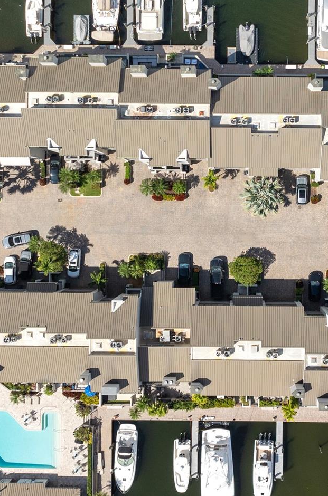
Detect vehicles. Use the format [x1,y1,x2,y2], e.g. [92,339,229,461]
[176,252,190,284]
[66,248,81,278]
[295,174,309,205]
[209,255,223,288]
[2,232,34,247]
[18,249,33,279]
[49,154,62,184]
[309,271,323,301]
[4,255,17,285]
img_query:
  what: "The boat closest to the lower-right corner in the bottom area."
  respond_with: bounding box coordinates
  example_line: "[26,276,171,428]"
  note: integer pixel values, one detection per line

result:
[253,427,274,496]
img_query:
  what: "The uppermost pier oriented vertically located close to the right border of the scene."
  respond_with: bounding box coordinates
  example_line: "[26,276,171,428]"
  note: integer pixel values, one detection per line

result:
[304,0,320,64]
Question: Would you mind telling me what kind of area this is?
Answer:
residential area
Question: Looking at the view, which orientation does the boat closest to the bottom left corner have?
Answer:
from top to bottom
